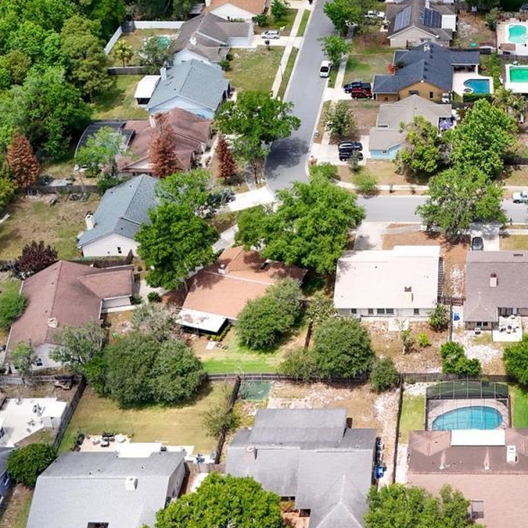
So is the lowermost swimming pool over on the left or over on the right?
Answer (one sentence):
The lowermost swimming pool sits on the right side.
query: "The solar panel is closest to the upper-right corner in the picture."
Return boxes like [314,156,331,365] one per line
[422,8,440,26]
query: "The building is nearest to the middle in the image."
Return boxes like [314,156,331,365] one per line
[175,248,297,344]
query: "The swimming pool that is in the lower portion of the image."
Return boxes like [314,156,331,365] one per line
[427,399,510,433]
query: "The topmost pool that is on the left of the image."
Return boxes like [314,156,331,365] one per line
[139,33,175,61]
